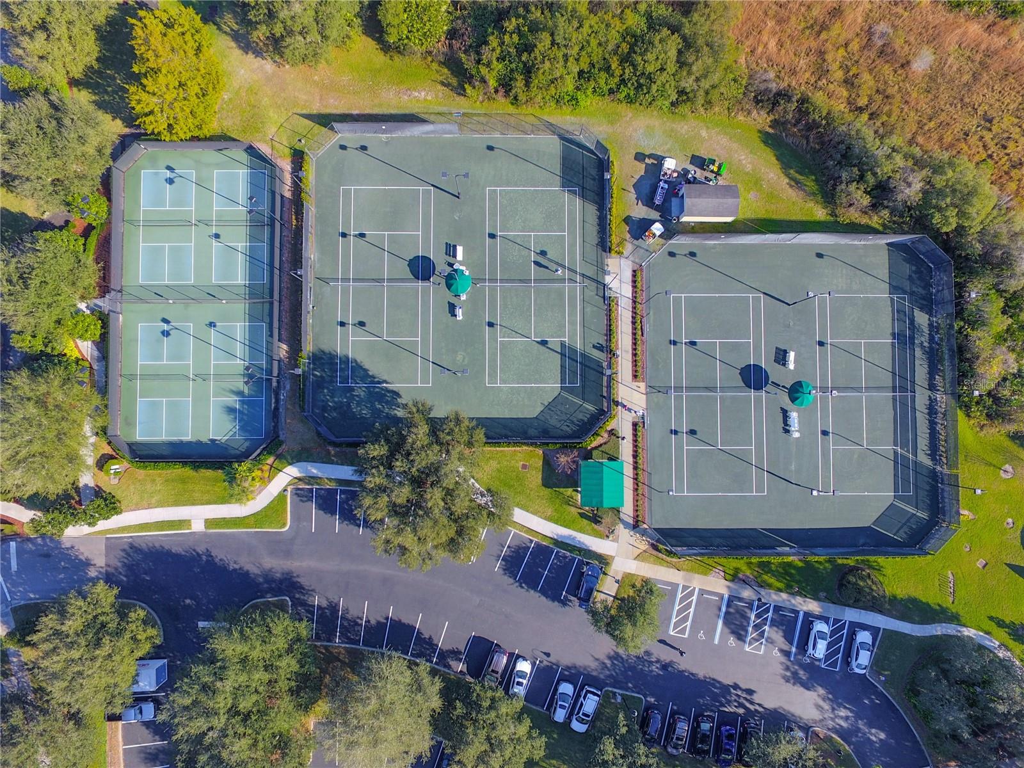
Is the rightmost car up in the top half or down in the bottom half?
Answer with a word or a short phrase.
bottom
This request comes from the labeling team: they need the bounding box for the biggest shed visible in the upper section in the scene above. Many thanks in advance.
[670,182,742,221]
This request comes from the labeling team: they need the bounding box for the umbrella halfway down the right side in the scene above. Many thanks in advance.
[786,380,813,407]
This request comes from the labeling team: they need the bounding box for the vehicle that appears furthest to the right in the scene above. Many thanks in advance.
[847,630,872,674]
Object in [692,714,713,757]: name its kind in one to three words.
car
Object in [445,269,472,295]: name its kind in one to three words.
umbrella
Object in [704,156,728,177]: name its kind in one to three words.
vehicle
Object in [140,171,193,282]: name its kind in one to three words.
sports court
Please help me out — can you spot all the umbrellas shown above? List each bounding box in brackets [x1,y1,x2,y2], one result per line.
[445,269,472,295]
[786,380,813,407]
